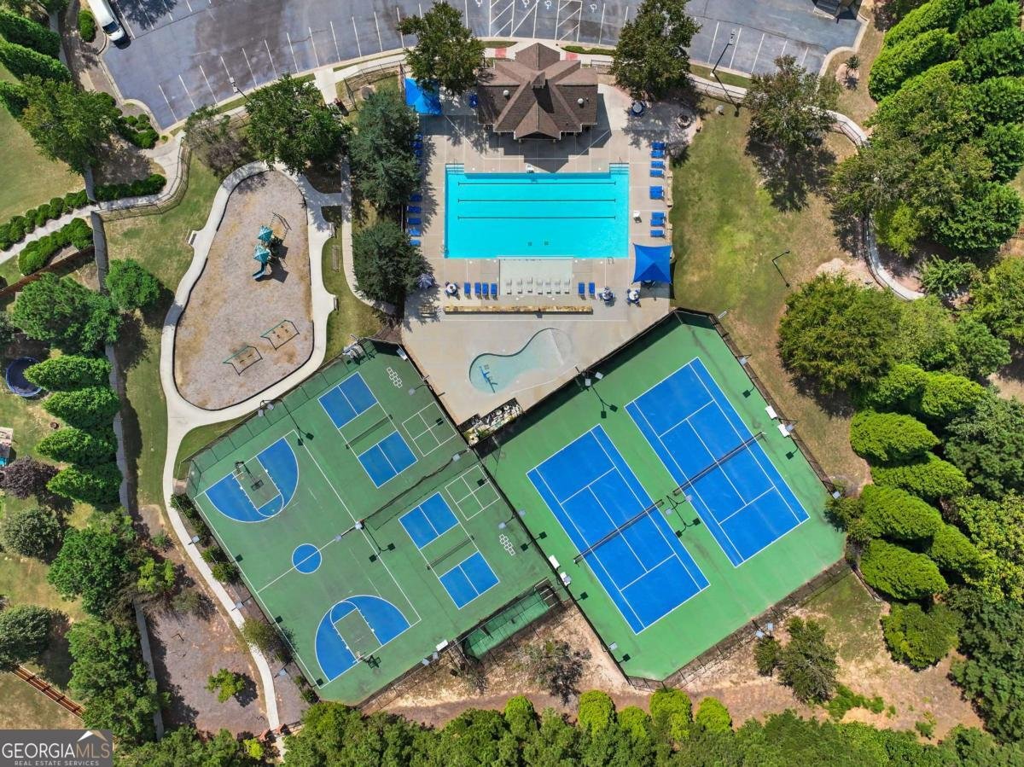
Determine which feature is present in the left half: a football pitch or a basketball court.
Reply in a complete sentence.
The one visible in the left half is a basketball court.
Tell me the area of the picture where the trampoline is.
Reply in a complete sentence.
Look in the left portion of the view to spot the trampoline.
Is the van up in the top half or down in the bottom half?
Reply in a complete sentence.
You can find the van in the top half.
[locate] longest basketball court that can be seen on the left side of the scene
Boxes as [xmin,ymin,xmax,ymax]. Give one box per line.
[193,429,420,688]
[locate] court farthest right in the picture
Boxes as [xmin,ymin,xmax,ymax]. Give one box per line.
[623,357,809,567]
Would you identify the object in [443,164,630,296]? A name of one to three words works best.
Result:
swimming pool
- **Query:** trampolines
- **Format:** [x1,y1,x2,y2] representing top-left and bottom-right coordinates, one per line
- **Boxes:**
[0,357,39,396]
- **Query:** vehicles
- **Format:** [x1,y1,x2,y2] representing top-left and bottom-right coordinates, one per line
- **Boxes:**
[89,0,134,50]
